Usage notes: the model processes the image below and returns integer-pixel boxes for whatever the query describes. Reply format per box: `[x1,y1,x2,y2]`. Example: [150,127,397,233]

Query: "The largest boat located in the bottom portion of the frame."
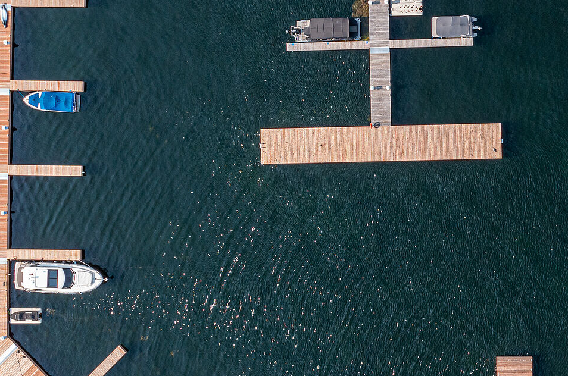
[14,261,106,295]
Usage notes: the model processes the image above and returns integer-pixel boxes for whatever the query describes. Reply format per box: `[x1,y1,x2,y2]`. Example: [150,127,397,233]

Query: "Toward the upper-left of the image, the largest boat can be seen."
[22,90,82,111]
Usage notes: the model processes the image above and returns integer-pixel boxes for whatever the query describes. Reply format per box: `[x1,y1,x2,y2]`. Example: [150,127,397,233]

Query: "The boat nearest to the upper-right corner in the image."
[431,14,480,40]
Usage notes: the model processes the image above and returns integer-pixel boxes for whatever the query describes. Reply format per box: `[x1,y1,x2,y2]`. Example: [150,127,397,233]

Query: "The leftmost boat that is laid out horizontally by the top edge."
[289,16,361,42]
